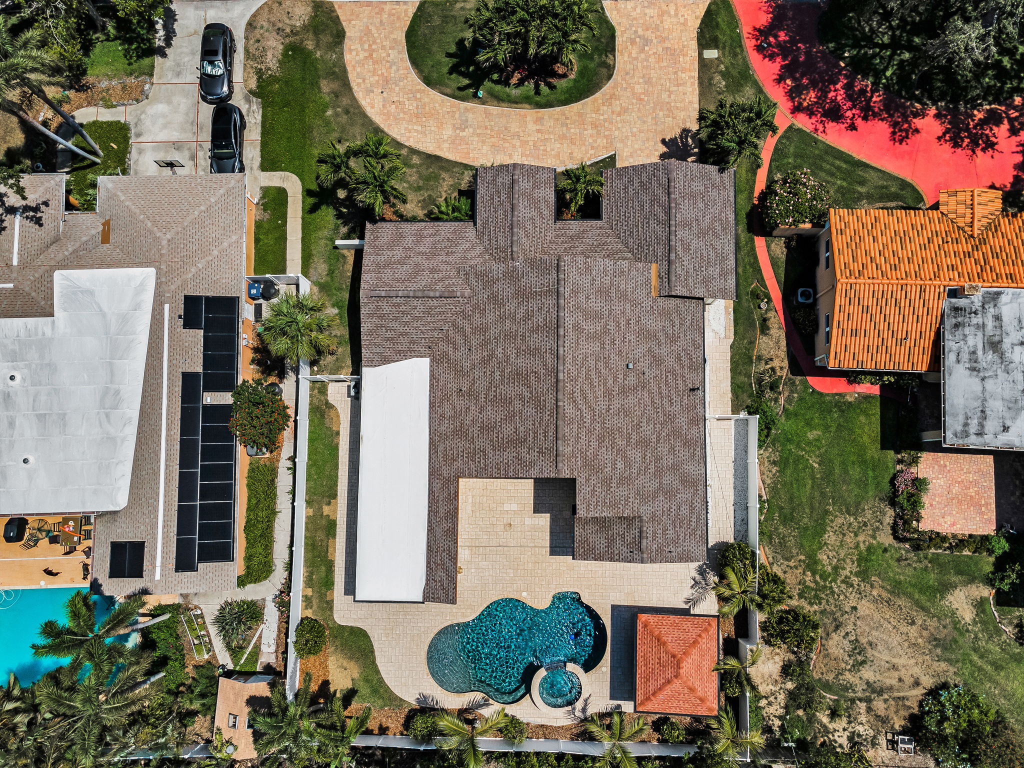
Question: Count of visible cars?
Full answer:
In total, 2 cars can be seen.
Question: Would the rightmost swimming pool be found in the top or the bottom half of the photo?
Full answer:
The bottom half of the photo is where the rightmost swimming pool is.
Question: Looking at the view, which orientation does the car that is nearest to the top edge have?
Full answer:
The car that is nearest to the top edge is oriented vertically.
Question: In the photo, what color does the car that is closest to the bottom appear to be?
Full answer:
In this view, the car that is closest to the bottom is black.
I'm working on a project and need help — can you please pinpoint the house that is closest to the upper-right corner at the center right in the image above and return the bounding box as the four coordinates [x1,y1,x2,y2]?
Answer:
[816,188,1024,452]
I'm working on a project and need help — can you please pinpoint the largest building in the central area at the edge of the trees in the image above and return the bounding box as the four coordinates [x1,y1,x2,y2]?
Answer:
[353,160,739,604]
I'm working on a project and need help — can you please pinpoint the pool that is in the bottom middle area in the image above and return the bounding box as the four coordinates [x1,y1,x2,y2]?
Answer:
[422,586,612,719]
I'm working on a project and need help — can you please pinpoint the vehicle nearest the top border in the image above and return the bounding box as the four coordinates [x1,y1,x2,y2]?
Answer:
[198,25,240,105]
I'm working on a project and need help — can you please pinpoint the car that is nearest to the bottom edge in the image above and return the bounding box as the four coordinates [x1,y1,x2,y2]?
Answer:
[207,106,249,176]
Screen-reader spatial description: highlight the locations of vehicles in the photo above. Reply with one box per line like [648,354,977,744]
[198,25,240,105]
[207,106,249,176]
